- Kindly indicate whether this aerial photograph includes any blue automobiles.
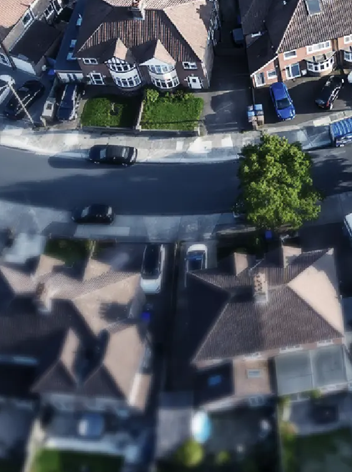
Yes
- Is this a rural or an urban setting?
urban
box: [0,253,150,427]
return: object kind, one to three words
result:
house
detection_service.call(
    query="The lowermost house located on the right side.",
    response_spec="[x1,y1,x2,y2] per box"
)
[185,244,352,413]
